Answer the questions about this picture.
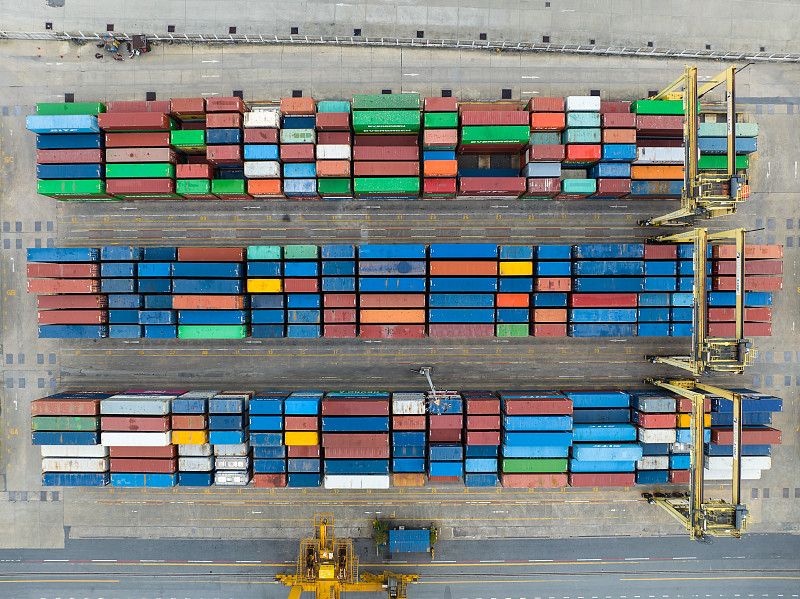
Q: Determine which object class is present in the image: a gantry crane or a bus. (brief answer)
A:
gantry crane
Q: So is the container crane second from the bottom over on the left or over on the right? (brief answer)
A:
right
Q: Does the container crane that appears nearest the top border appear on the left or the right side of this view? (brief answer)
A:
right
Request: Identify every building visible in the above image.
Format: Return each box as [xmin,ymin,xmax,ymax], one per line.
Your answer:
[131,35,148,52]
[390,524,430,551]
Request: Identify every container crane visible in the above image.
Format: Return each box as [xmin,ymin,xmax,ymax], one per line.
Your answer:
[638,57,755,227]
[644,375,760,540]
[274,512,418,599]
[645,225,763,376]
